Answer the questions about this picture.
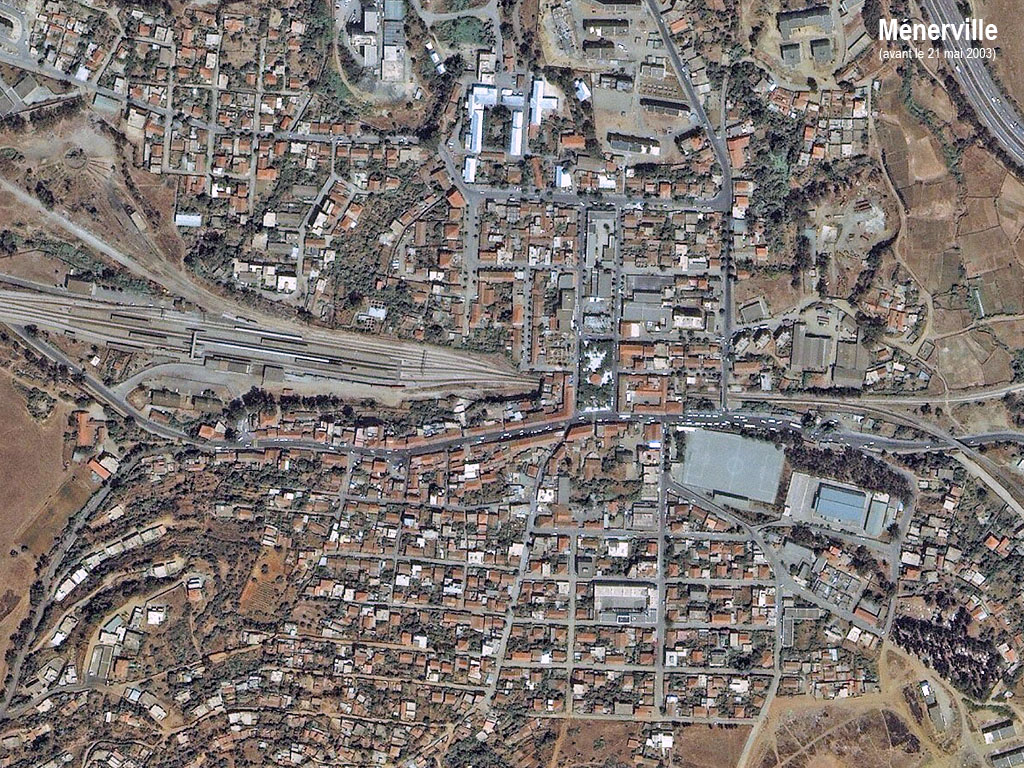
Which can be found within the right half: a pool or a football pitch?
football pitch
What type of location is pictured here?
residential area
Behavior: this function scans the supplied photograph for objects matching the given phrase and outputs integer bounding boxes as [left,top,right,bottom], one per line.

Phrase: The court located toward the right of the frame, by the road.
[786,473,814,521]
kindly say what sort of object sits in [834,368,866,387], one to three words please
building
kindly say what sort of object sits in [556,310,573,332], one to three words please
house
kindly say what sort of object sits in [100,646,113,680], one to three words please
shed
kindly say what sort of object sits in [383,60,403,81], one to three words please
building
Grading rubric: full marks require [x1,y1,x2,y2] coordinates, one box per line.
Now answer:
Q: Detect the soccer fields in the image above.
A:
[682,429,784,504]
